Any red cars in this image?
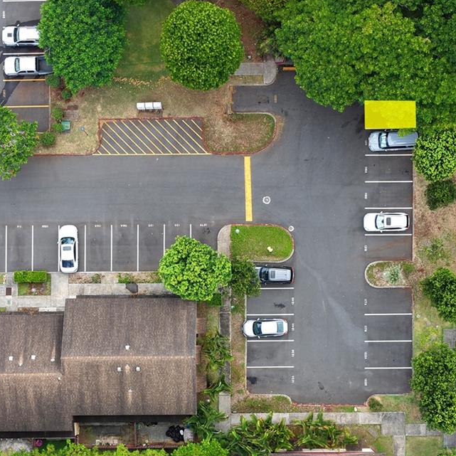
No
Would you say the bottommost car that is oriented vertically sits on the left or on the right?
left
